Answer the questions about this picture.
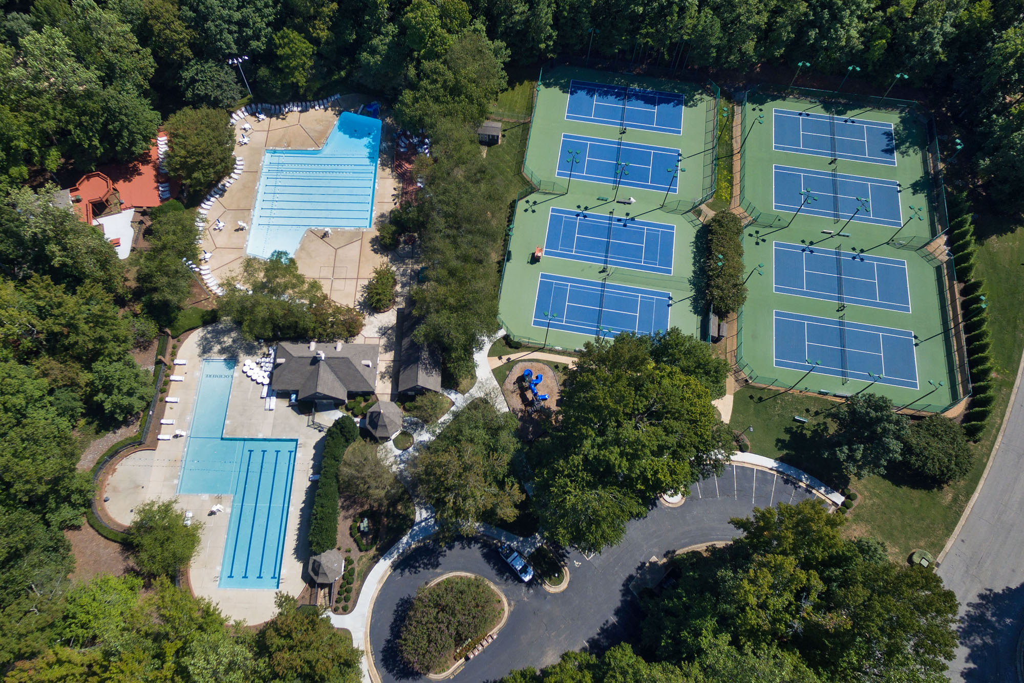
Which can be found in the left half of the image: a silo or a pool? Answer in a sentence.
Looking in the left half of the image, you will find a pool.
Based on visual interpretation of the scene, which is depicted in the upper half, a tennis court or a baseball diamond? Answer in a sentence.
What appears in the upper half is a tennis court.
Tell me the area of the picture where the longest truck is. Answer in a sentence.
The longest truck sits in the bottom section of the image.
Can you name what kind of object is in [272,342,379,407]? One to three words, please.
building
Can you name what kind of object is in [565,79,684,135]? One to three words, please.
tennis court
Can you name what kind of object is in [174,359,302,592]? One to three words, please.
swimming pool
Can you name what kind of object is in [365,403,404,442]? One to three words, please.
gazebo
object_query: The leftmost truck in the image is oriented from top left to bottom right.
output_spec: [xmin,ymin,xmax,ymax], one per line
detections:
[499,542,532,582]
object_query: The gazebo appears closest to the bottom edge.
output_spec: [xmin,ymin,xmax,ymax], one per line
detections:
[307,547,347,587]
